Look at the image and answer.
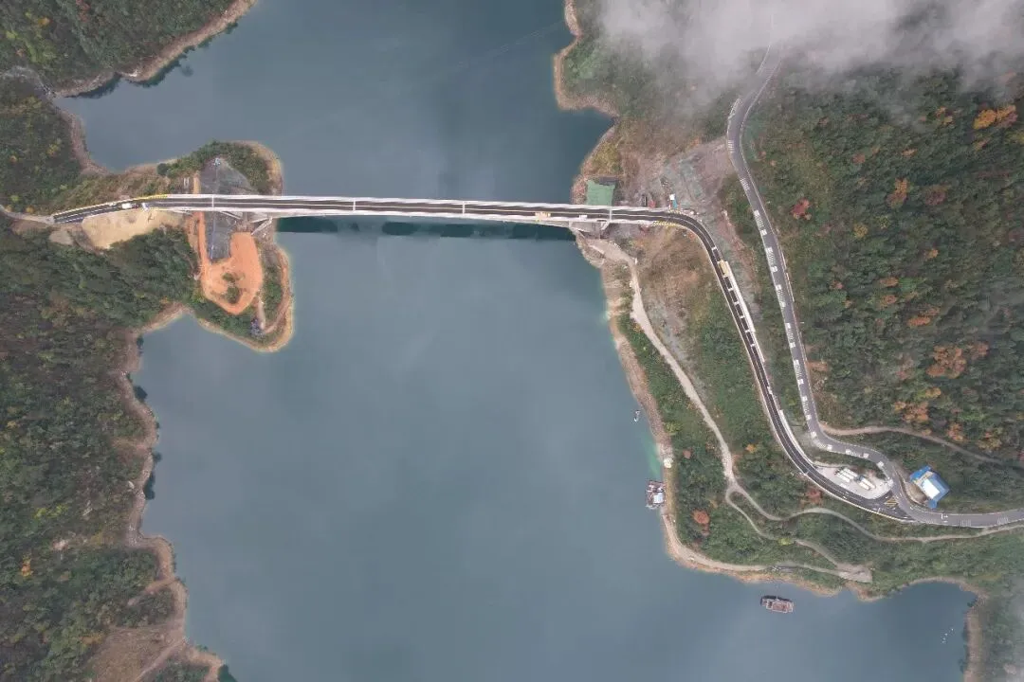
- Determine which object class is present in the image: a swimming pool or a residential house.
residential house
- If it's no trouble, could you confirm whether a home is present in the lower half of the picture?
Yes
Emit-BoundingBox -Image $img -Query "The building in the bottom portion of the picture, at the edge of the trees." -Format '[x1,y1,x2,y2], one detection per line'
[909,465,949,509]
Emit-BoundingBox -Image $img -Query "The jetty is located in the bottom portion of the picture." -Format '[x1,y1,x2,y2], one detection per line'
[646,483,665,508]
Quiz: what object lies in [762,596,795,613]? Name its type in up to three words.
ship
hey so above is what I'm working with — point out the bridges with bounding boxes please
[141,193,657,233]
